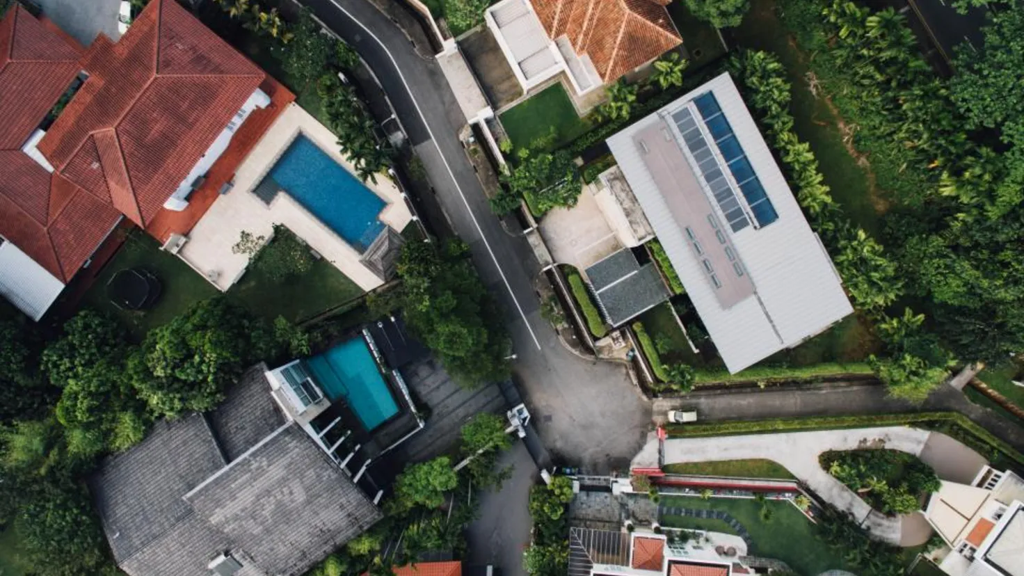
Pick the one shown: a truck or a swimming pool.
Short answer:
swimming pool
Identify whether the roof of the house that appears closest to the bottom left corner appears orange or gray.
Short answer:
gray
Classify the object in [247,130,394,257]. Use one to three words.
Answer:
swimming pool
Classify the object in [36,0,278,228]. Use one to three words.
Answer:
house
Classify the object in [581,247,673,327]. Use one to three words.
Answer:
building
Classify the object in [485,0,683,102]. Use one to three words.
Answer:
house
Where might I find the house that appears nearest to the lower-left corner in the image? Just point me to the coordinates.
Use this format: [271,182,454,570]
[91,358,388,576]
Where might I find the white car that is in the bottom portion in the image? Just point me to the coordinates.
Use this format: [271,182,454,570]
[667,409,696,423]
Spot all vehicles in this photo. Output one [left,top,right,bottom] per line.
[667,409,696,423]
[117,0,134,33]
